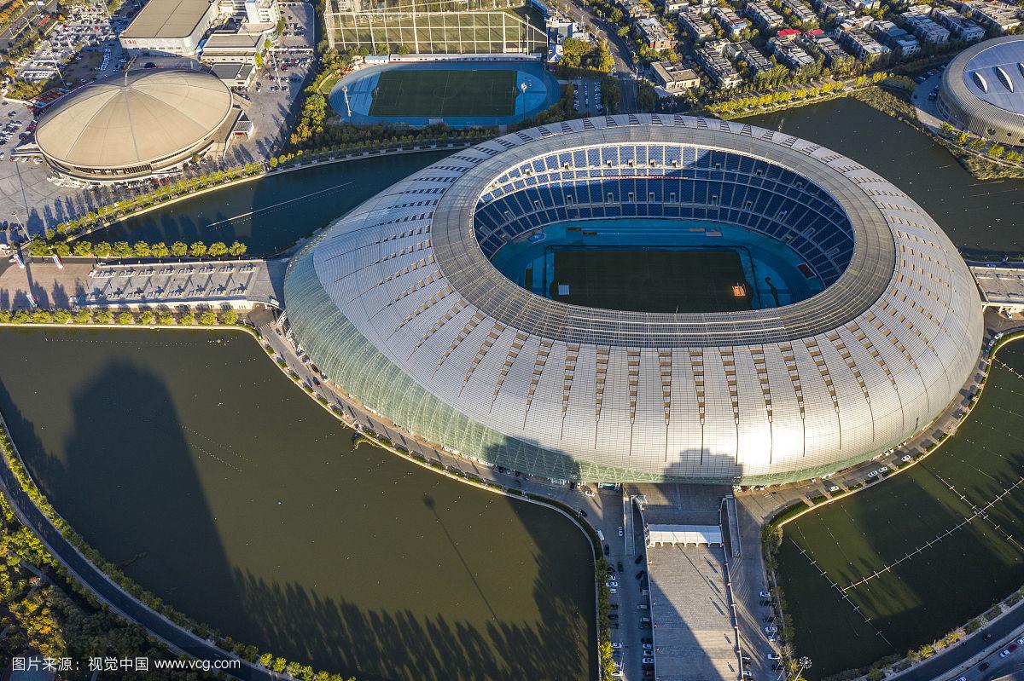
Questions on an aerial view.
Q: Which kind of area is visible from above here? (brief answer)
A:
sports ground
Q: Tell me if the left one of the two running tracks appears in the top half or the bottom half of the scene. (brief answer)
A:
top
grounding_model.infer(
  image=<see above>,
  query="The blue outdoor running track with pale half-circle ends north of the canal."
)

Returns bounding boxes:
[328,54,564,120]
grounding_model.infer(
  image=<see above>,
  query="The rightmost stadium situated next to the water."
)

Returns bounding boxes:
[928,38,1024,160]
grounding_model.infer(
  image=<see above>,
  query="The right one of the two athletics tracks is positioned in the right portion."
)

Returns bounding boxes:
[488,217,823,308]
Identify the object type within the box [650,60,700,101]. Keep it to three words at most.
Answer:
building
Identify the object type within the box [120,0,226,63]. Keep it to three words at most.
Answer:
building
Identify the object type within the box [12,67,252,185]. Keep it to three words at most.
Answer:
stadium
